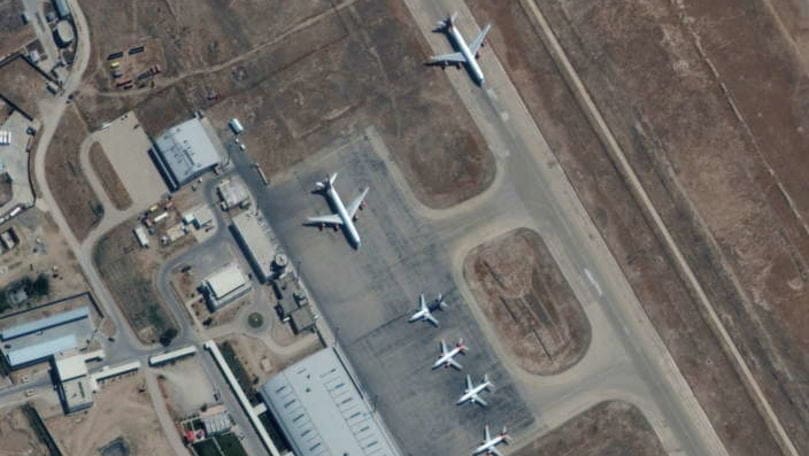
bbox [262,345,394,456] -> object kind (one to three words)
building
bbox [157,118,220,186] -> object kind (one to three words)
hangar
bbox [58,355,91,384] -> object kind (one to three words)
building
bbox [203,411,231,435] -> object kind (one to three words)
house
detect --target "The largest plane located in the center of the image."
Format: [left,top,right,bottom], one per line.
[307,176,371,247]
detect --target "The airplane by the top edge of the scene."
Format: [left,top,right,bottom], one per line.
[431,13,493,82]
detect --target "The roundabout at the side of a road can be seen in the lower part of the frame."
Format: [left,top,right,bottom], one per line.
[240,305,271,335]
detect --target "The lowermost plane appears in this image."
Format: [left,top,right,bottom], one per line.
[472,428,509,456]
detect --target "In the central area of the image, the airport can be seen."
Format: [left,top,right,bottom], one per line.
[226,0,726,456]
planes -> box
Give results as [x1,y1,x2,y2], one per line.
[408,293,446,325]
[457,376,493,406]
[472,428,509,456]
[307,176,371,247]
[431,13,493,82]
[433,339,469,369]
